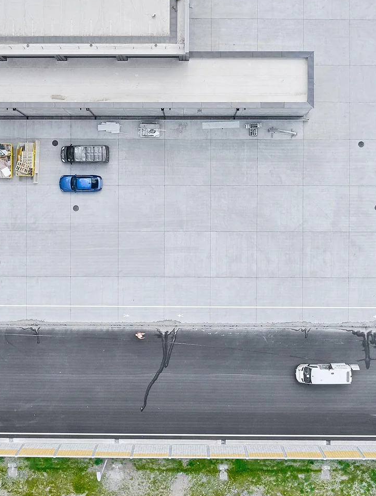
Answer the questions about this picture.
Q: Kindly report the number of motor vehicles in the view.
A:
3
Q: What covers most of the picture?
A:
paved ground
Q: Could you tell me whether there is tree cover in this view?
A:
No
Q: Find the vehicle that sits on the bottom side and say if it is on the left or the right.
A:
right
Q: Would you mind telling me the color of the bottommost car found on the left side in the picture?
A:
blue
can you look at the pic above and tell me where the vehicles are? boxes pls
[61,143,110,165]
[60,173,103,194]
[295,363,360,386]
